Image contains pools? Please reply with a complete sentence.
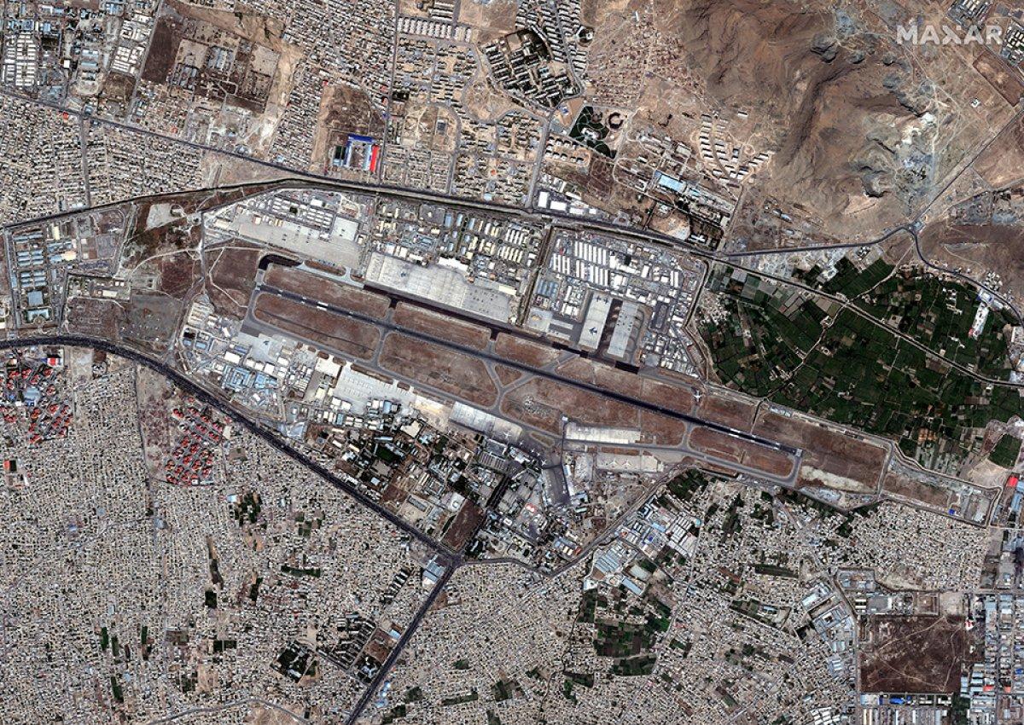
No, no pool is visible in the view.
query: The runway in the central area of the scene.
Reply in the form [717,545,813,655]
[256,283,801,456]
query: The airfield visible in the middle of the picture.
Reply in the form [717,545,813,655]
[213,205,887,507]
